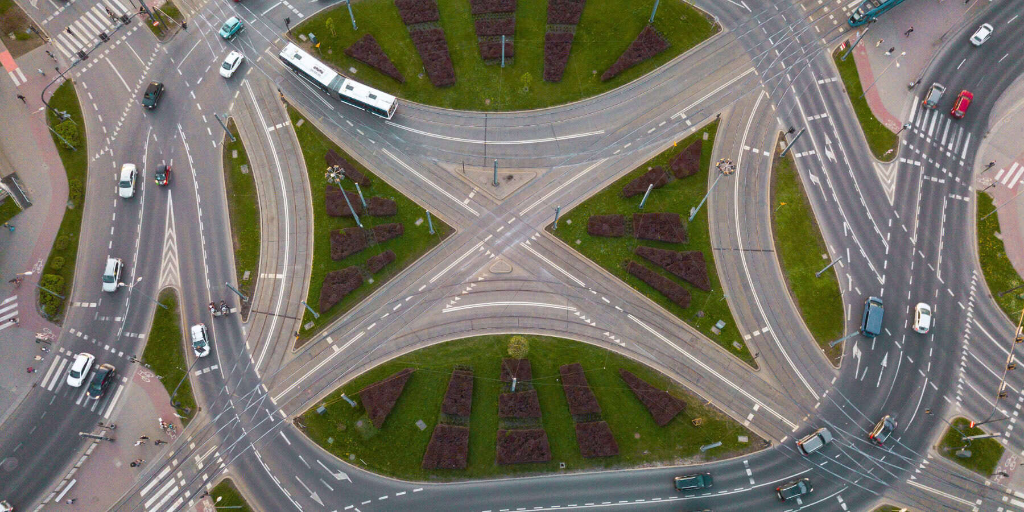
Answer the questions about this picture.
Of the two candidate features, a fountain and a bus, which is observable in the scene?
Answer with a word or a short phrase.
bus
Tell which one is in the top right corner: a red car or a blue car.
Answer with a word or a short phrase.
red car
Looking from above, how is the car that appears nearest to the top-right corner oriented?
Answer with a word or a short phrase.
at an angle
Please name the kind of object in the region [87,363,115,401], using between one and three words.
car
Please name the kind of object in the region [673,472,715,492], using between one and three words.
car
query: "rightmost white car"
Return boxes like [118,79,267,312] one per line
[969,20,994,48]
